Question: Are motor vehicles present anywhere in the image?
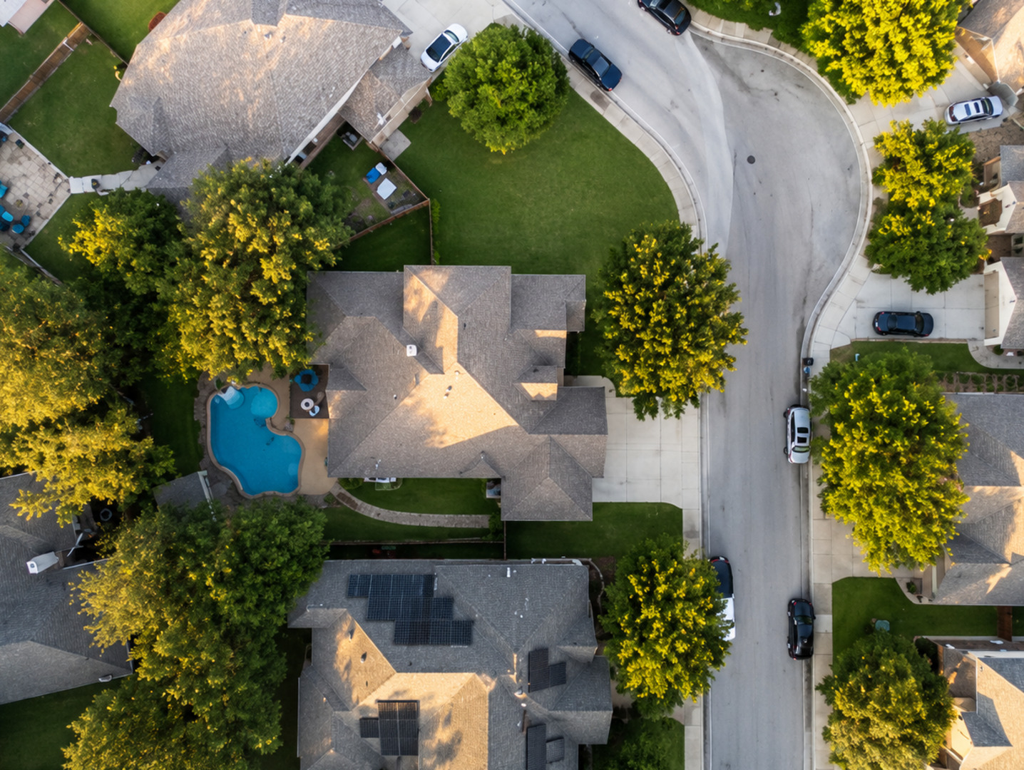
Yes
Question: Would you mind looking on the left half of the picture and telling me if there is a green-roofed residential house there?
No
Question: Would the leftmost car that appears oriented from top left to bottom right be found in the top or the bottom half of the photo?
top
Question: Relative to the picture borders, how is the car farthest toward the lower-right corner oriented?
vertically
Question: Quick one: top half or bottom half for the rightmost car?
top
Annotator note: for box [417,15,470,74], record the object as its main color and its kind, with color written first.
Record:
white car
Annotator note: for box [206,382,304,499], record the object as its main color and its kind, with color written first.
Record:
blue swimming pool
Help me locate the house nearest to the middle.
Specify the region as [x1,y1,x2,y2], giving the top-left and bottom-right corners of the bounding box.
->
[306,264,608,522]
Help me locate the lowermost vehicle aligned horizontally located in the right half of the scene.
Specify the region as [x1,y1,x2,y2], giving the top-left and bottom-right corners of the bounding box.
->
[874,309,937,338]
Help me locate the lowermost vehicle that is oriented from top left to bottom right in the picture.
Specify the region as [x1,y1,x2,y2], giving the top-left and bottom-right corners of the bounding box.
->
[566,35,626,89]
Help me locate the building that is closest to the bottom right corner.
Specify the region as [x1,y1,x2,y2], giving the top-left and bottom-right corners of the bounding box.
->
[942,644,1024,770]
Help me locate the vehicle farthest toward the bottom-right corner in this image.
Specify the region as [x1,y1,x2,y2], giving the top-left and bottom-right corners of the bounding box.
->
[789,599,821,663]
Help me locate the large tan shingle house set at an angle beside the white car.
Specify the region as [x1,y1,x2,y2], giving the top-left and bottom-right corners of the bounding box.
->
[110,0,432,191]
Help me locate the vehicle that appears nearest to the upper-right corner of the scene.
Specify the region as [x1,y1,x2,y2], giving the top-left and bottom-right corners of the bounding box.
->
[944,93,1008,124]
